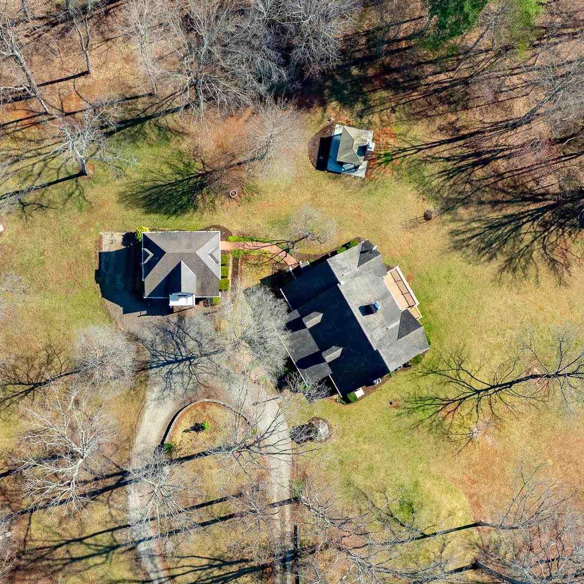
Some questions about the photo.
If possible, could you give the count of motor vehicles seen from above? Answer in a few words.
none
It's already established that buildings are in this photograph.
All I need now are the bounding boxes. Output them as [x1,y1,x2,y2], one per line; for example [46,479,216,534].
[327,124,375,177]
[272,238,430,397]
[142,231,221,308]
